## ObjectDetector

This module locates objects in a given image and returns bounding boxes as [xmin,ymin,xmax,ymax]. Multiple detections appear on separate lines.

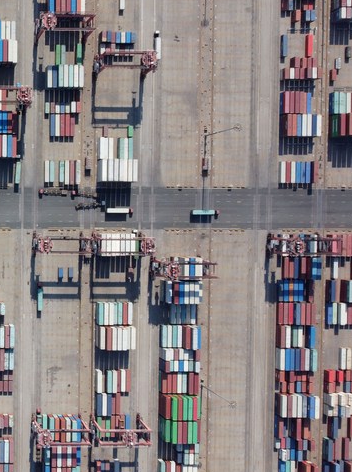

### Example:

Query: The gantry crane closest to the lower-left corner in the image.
[33,413,91,447]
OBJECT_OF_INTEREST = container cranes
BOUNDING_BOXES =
[270,233,342,258]
[0,84,32,114]
[91,413,152,447]
[30,233,89,258]
[92,233,157,258]
[153,256,218,280]
[37,11,96,46]
[33,413,91,447]
[95,49,158,81]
